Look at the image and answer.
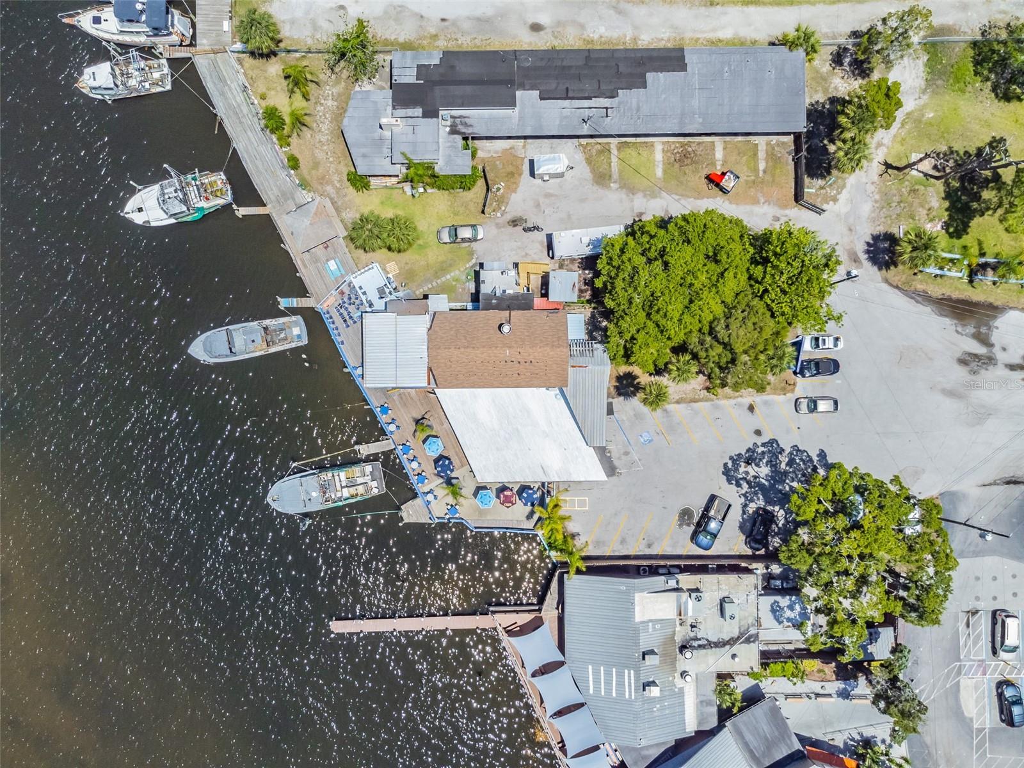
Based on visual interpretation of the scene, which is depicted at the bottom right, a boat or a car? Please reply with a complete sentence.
Visible at the bottom right is a car.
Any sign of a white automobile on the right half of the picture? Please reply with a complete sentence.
Yes, a white automobile appears on the right half of the picture.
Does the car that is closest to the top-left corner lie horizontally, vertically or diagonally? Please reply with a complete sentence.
I'd say the car that is closest to the top-left corner is aligned horizontally in the picture.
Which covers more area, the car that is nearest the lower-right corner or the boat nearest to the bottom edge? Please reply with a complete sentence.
It is the boat that is larger, not the car.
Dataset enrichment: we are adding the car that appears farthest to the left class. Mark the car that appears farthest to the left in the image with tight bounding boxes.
[437,223,484,245]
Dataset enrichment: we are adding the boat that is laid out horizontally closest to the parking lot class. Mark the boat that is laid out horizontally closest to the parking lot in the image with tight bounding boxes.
[267,462,386,513]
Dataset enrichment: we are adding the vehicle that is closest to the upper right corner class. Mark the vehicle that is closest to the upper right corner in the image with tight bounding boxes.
[705,169,740,195]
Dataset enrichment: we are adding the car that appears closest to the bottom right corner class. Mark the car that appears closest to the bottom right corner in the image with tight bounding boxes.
[994,679,1022,727]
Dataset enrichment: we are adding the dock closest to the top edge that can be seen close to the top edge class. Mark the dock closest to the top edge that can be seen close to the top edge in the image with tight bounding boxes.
[196,0,232,49]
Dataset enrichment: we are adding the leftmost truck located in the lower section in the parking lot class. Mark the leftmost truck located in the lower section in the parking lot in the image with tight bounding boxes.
[692,491,729,550]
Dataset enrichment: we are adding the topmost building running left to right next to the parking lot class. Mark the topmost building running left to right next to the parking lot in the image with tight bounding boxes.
[391,46,806,178]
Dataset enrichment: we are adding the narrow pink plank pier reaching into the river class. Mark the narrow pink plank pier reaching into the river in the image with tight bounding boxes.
[331,615,496,632]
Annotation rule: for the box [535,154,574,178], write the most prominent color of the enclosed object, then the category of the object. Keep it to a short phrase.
white trailer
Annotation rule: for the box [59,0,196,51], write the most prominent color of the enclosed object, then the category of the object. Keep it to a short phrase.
white boat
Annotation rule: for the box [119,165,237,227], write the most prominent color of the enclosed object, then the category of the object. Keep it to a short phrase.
white boat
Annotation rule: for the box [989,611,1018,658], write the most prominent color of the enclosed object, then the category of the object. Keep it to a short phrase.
white car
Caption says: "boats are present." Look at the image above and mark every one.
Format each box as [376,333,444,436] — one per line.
[59,0,196,51]
[75,42,177,103]
[188,315,309,364]
[119,165,237,227]
[267,462,386,513]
